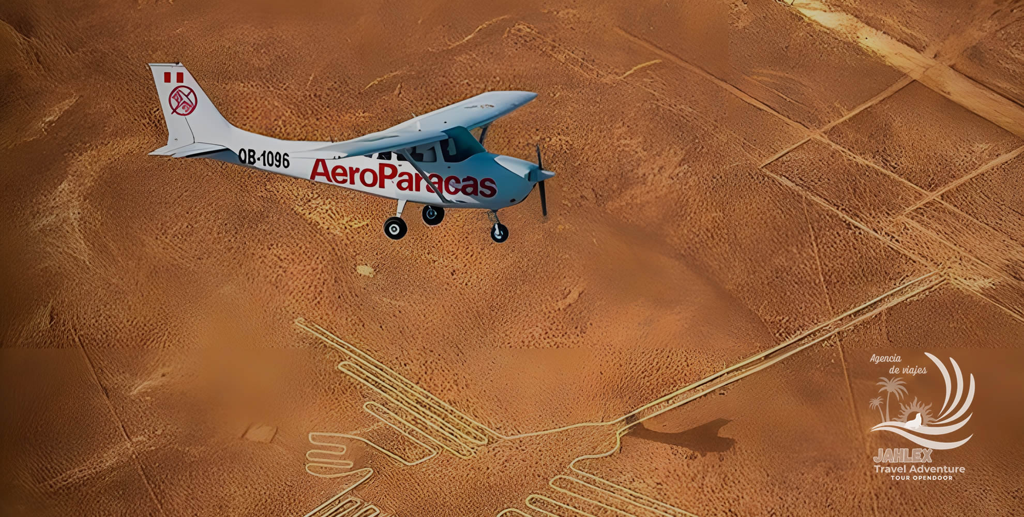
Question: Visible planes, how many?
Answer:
1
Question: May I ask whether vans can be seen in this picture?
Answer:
No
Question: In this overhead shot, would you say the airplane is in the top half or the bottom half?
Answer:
top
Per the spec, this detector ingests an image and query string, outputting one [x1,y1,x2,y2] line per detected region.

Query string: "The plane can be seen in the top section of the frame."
[146,62,555,242]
